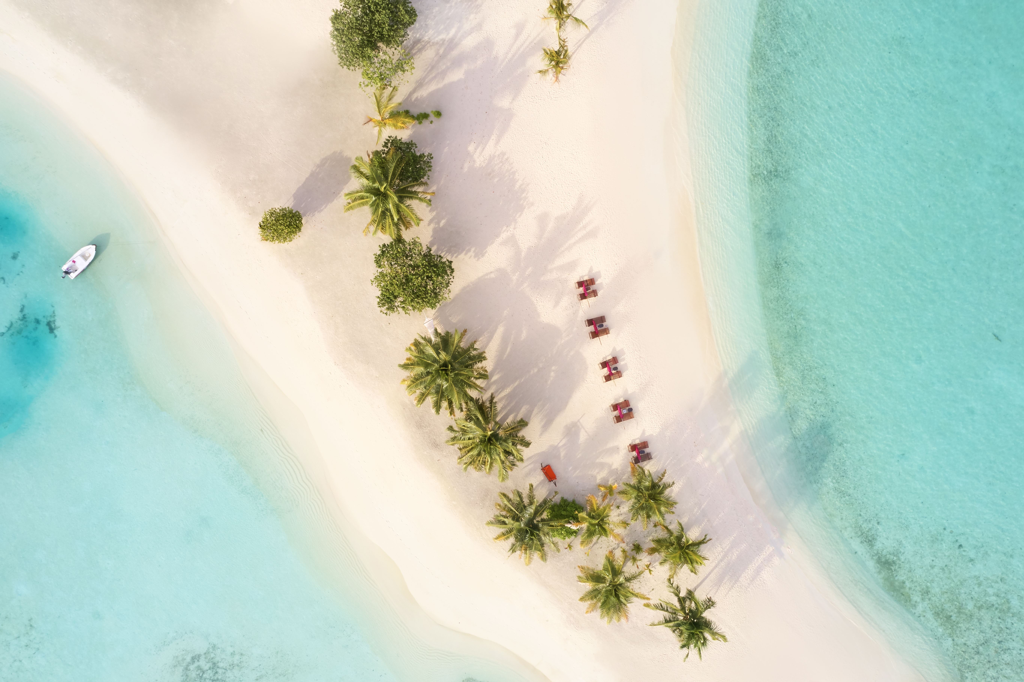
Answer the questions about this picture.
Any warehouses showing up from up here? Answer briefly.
No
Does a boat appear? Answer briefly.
Yes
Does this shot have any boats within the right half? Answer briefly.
No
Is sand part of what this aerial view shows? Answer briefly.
Yes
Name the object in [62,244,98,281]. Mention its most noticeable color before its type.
white boat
